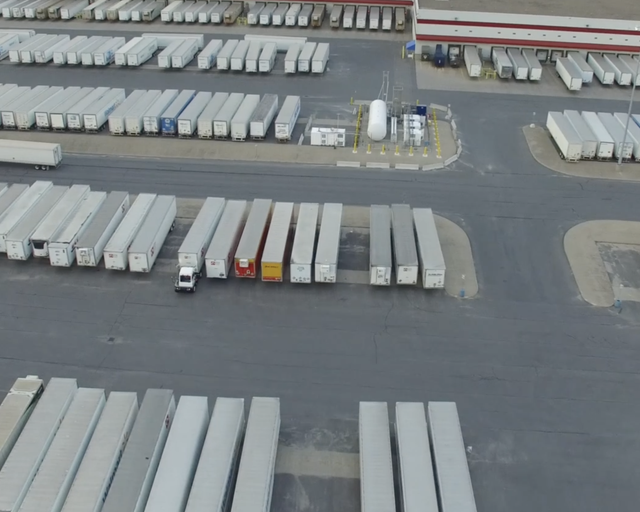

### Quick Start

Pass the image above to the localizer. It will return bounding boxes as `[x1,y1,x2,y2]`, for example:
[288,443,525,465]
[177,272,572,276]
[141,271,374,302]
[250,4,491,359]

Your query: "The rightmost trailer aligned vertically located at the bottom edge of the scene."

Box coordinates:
[426,393,476,512]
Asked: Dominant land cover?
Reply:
paved ground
